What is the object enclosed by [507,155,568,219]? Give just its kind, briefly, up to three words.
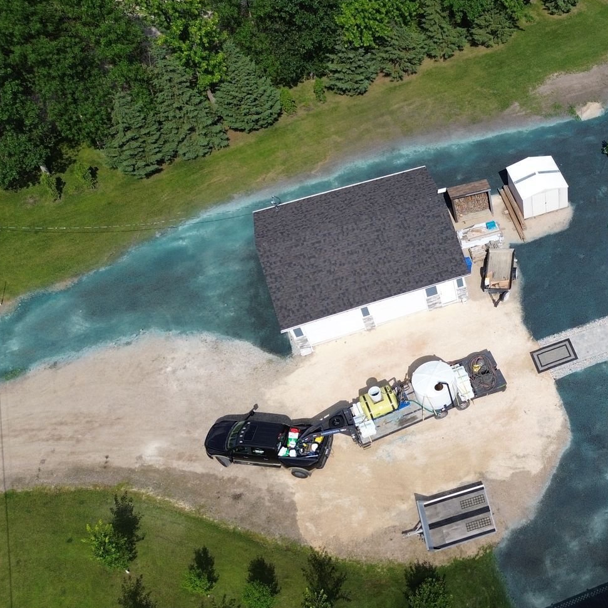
shed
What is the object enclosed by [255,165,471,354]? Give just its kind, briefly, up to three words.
building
